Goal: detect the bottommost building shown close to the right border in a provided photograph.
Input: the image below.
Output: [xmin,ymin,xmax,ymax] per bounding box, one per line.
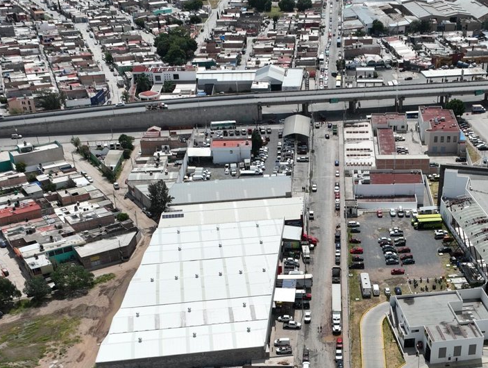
[424,323,484,365]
